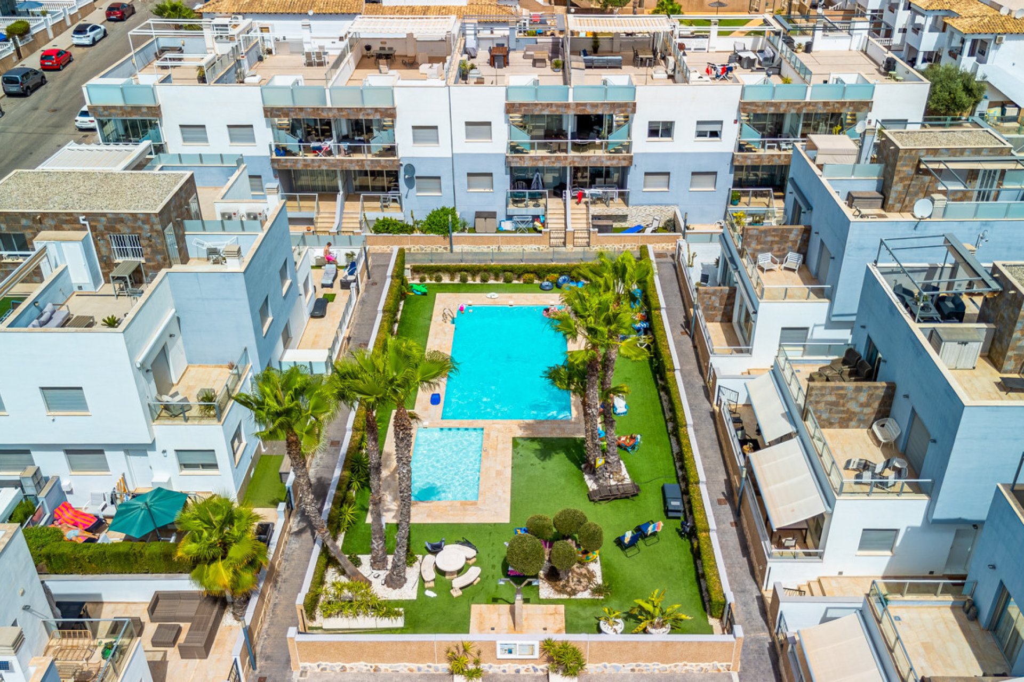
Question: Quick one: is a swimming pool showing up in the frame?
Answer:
Yes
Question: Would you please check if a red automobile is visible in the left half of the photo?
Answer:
Yes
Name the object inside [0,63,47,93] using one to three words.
car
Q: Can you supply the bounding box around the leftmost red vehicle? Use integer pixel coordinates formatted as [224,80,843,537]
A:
[38,45,76,68]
